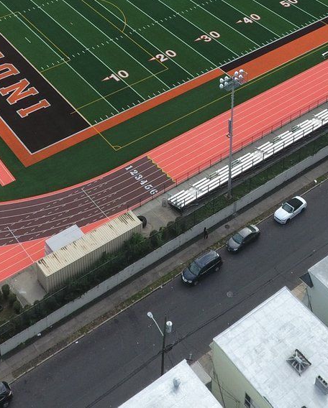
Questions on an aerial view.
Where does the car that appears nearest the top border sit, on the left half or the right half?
right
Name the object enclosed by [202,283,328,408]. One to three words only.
house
